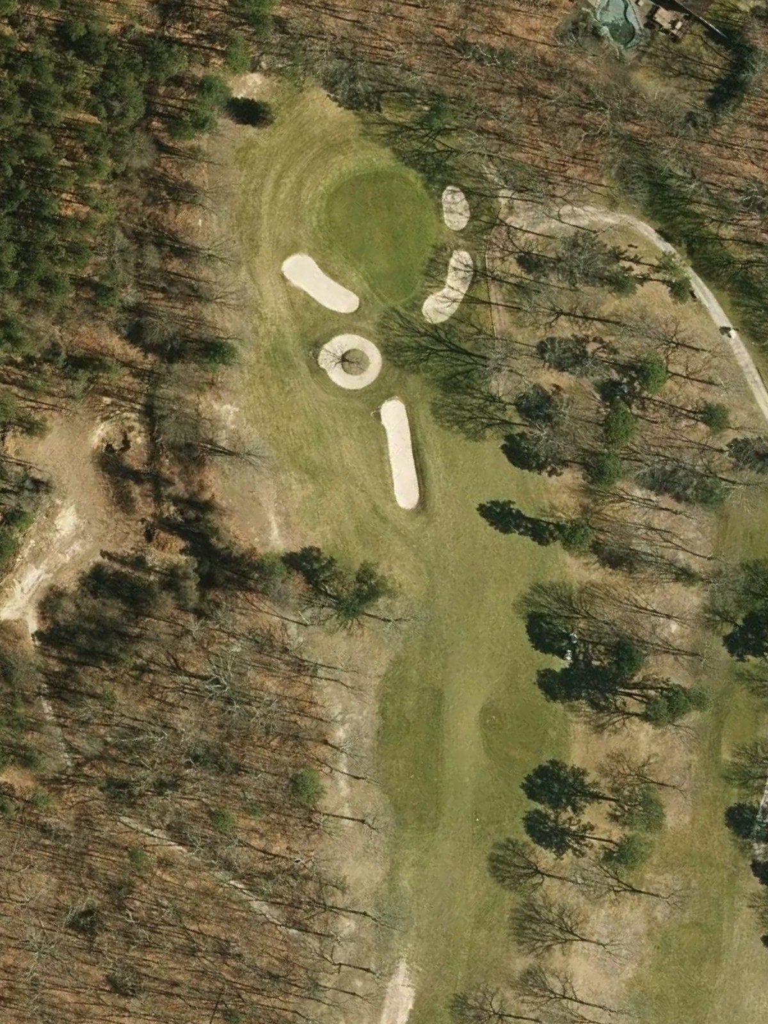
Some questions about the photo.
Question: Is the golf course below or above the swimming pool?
below it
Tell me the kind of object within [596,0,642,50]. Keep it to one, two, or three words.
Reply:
swimming pool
